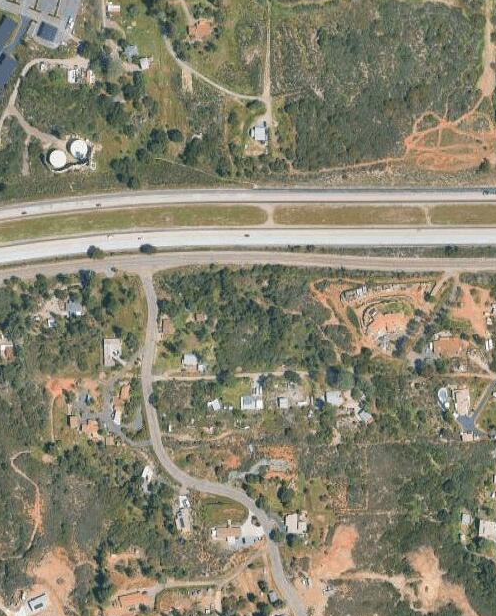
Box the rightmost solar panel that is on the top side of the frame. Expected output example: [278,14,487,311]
[37,21,58,41]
